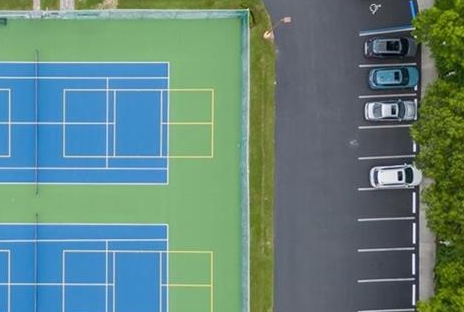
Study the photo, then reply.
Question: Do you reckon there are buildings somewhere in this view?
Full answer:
No, there appears to be no building in this shot.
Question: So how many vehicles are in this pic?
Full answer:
There are 4 vehicles in the image.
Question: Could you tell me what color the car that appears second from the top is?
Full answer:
The car that appears second from the top is blue.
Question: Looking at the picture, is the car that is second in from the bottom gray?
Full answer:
Yes, gray is the color of the car that is second in from the bottom.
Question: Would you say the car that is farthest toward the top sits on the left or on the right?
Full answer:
You can find the car that is farthest toward the top on the right side of the picture.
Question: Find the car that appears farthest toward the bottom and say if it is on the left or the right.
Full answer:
You can find the car that appears farthest toward the bottom on the right side of the picture.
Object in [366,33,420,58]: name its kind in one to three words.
car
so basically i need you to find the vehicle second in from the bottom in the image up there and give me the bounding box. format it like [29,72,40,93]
[366,97,420,121]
